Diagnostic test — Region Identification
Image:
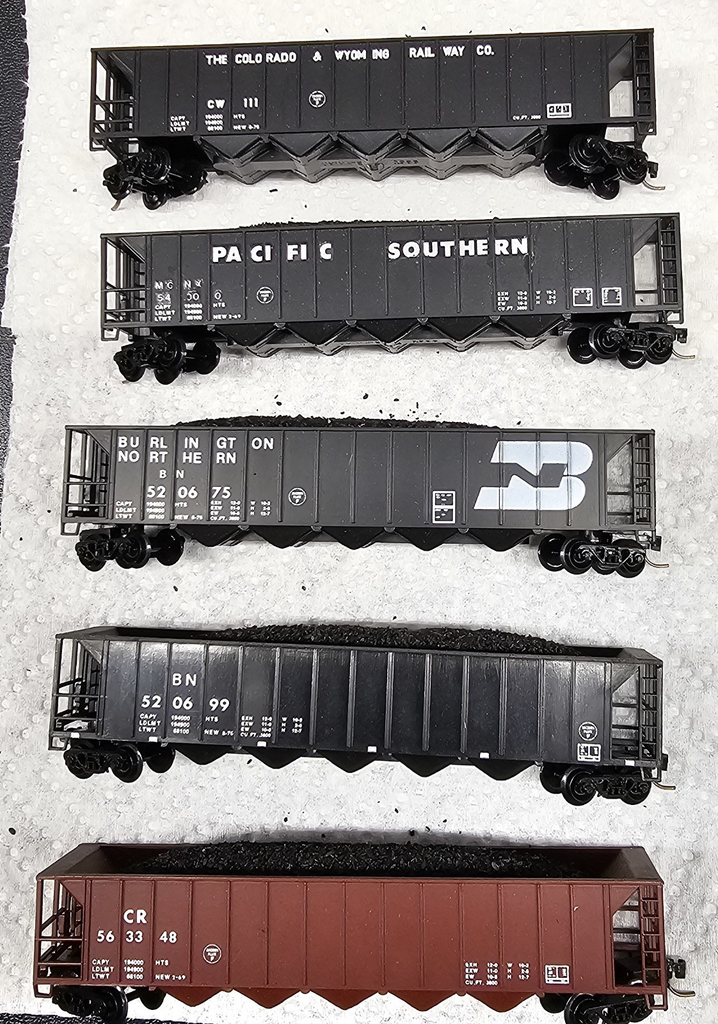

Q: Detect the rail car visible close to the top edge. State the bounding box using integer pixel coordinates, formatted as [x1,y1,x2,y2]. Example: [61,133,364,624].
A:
[90,30,669,211]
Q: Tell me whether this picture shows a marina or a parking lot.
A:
parking lot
